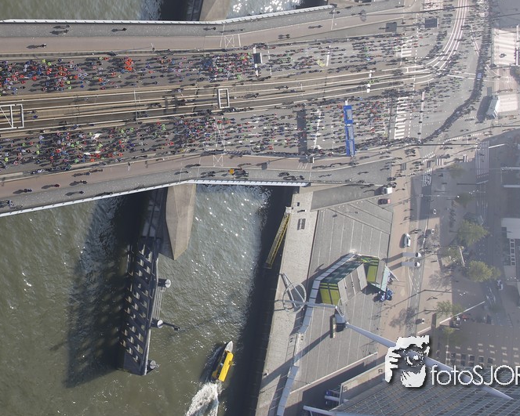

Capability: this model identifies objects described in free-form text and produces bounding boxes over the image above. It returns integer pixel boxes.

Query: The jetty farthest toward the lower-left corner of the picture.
[109,220,181,377]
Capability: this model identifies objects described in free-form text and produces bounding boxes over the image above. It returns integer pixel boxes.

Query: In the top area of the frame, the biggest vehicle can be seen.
[488,91,507,124]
